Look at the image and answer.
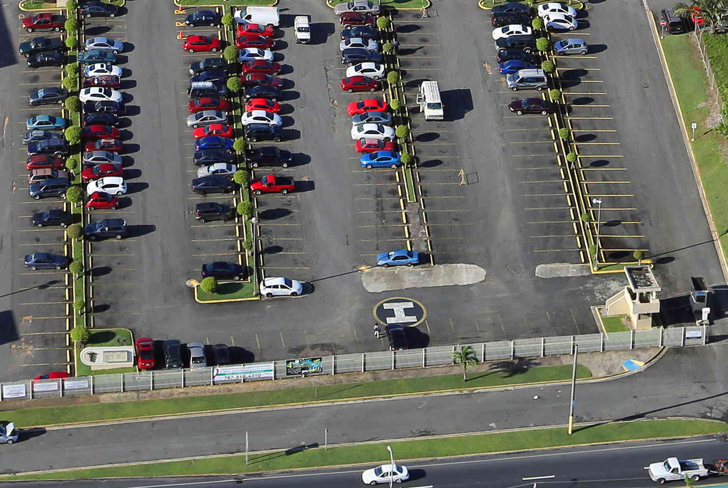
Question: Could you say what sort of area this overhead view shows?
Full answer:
What you see here is a parking lot.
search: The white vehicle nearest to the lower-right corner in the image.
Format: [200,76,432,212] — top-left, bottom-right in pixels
[647,459,708,485]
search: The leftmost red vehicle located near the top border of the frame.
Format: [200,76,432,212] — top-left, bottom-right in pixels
[22,13,65,32]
